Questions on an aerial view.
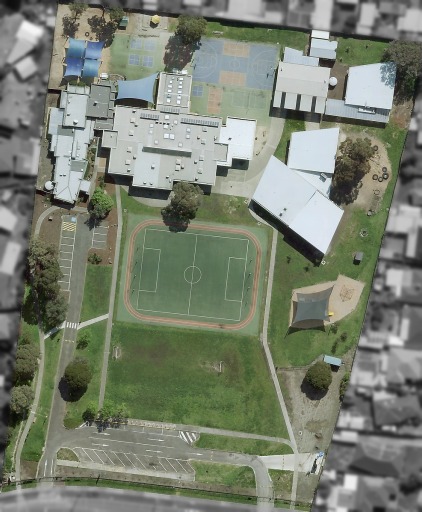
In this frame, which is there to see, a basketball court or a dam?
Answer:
basketball court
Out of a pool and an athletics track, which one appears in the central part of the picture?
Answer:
athletics track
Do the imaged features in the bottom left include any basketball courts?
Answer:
No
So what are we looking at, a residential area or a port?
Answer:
residential area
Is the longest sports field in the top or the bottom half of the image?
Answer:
bottom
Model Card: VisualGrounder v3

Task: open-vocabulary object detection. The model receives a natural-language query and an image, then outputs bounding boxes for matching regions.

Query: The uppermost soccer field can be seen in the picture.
[128,226,256,324]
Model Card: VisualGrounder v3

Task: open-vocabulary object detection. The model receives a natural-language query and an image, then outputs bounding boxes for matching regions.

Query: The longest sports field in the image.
[106,323,287,430]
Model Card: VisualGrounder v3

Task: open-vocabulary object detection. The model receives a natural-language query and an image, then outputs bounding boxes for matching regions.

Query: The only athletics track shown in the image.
[116,214,270,336]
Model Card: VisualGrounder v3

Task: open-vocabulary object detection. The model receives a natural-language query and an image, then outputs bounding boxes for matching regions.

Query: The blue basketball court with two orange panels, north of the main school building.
[192,40,280,90]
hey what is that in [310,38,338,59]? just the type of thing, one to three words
shed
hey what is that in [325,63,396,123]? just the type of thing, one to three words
building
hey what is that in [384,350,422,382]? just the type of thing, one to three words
house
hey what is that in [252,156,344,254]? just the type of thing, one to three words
building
